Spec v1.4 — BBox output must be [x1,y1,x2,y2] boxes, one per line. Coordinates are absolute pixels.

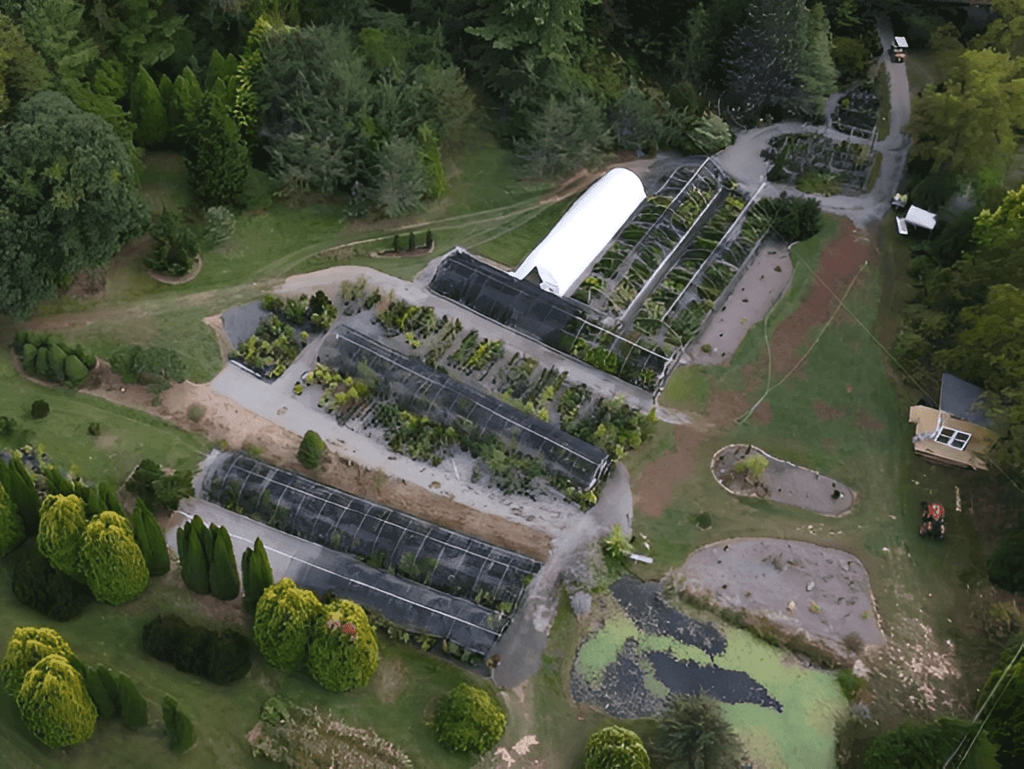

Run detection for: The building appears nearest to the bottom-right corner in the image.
[907,365,1002,475]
